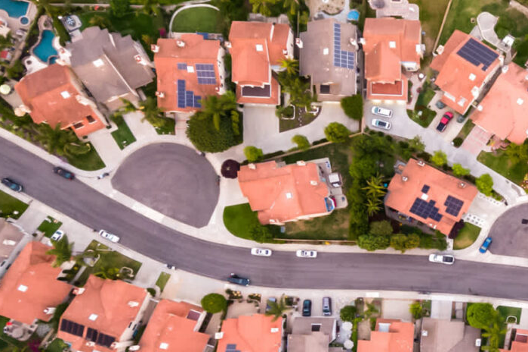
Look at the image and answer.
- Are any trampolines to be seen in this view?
No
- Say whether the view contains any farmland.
No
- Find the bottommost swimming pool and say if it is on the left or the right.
left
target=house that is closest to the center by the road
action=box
[237,157,332,225]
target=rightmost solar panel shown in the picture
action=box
[458,38,498,71]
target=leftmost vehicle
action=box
[2,177,23,191]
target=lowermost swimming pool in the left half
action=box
[31,28,60,66]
